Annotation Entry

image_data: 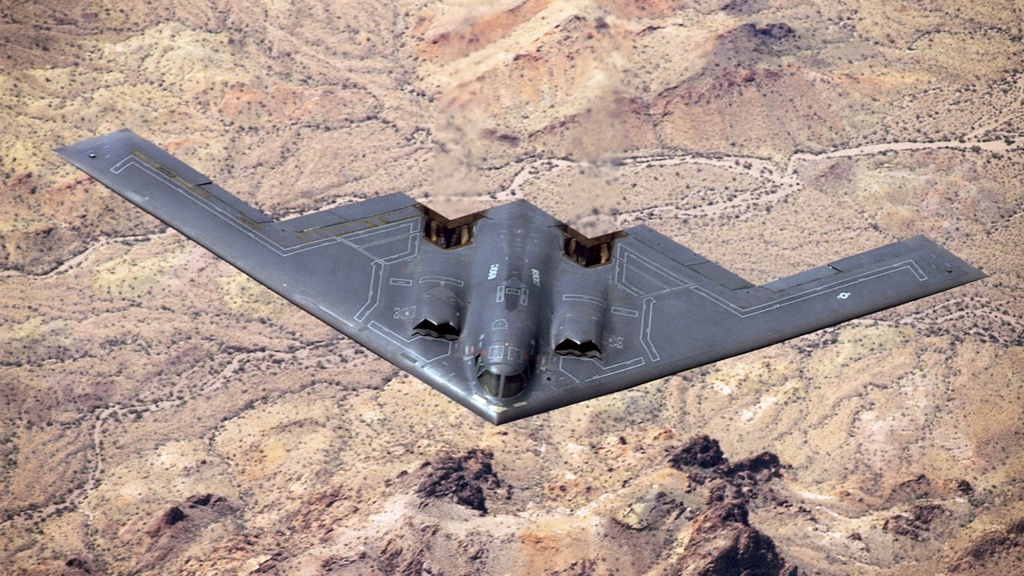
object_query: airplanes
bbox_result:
[53,130,987,425]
